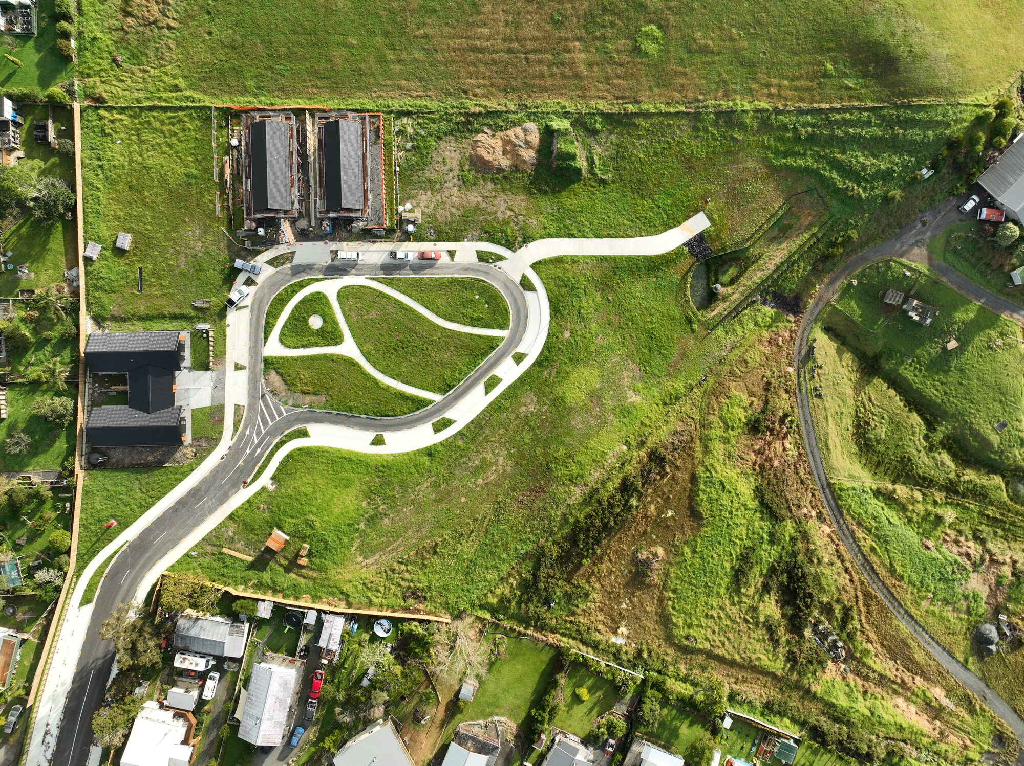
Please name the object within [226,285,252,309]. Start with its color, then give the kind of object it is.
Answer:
white truck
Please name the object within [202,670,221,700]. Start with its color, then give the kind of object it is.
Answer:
white car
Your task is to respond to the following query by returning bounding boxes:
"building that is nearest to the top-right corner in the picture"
[974,129,1024,232]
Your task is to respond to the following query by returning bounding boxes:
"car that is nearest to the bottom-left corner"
[2,703,24,734]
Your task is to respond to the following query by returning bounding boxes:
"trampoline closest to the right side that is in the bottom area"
[281,612,302,635]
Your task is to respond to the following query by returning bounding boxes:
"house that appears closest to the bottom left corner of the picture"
[0,635,29,692]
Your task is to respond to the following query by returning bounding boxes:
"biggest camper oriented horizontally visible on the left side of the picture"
[178,654,220,673]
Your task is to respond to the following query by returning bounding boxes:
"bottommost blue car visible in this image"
[290,725,306,748]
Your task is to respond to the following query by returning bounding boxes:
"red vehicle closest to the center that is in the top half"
[418,249,442,261]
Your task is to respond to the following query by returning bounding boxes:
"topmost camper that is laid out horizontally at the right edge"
[968,208,1002,223]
